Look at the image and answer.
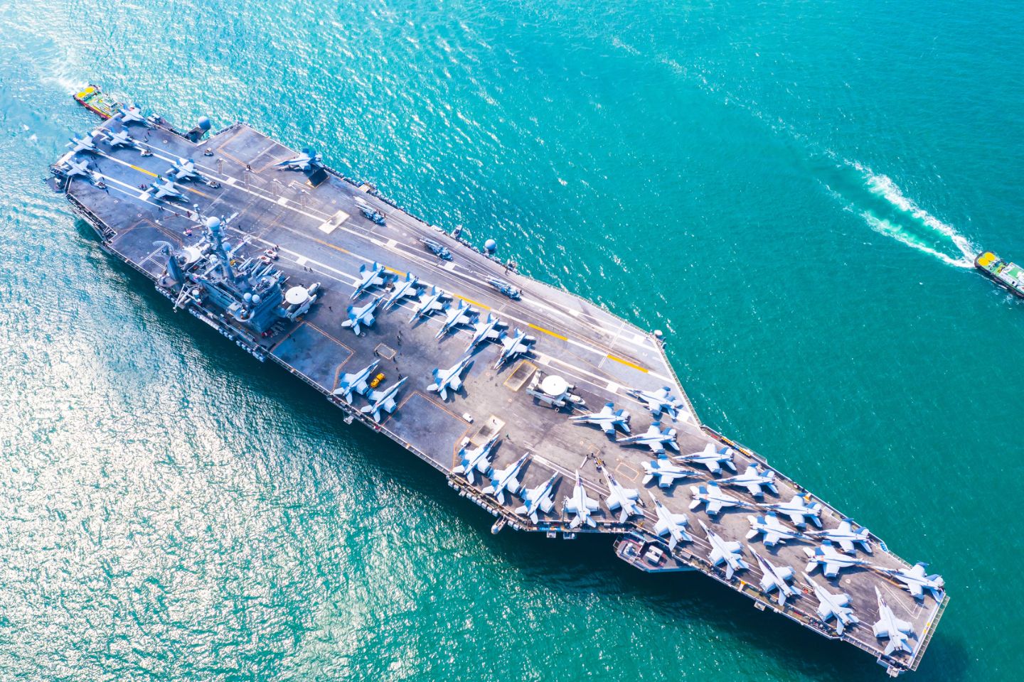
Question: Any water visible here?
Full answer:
Yes, there is water in the image.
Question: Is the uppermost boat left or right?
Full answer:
You can find the uppermost boat on the left side of the picture.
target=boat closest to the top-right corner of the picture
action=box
[976,251,1024,301]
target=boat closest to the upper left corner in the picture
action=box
[77,84,127,120]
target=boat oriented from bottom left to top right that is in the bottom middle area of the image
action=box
[492,518,506,532]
